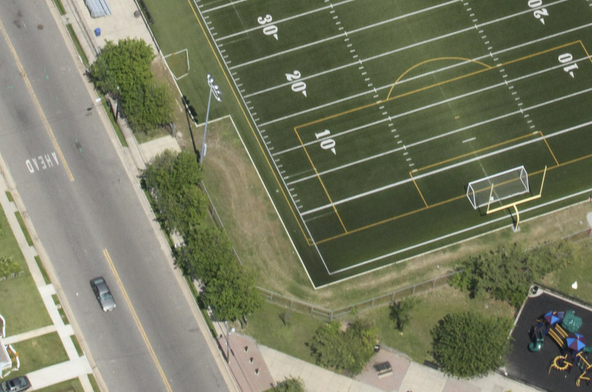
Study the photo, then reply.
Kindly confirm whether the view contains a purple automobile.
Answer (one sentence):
No, I can't see a single purple automobile in this photo.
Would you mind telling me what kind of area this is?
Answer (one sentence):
It's a sports ground.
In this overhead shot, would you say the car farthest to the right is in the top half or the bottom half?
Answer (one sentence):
You can find the car farthest to the right in the bottom half.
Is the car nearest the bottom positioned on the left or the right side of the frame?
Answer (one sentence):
The car nearest the bottom is on the left side of the image.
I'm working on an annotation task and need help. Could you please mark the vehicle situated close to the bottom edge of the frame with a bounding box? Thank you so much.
[0,372,33,392]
